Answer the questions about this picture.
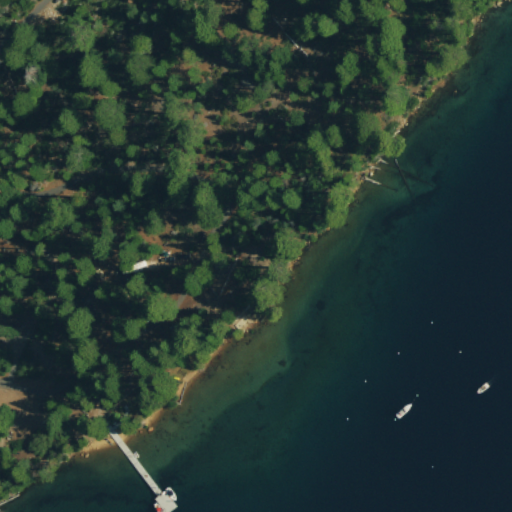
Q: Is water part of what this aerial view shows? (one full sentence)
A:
Yes, there is water in the image.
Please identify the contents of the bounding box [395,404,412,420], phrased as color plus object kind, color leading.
white boat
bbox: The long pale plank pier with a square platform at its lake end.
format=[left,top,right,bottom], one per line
[109,430,178,512]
